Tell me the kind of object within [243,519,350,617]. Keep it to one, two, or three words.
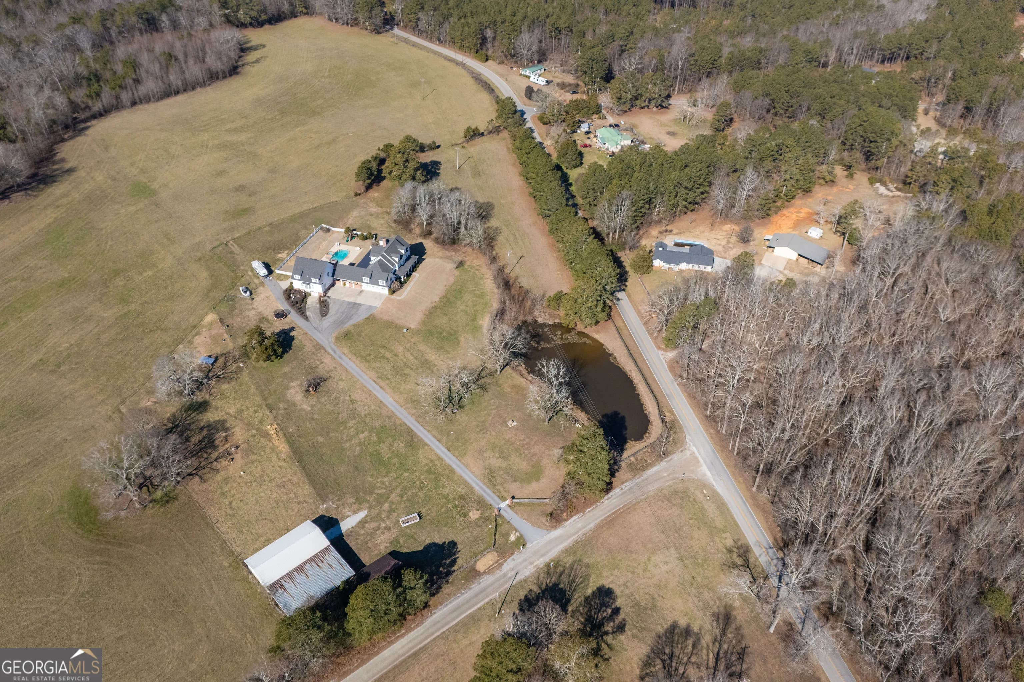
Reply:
barn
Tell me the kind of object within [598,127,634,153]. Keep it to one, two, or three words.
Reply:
building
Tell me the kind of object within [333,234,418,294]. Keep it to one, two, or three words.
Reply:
house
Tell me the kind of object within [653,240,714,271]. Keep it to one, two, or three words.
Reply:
house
